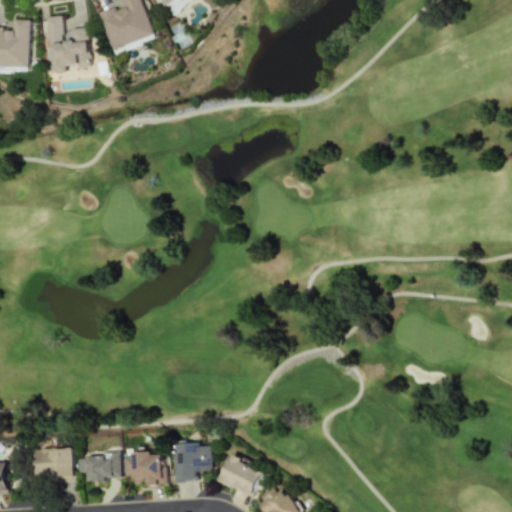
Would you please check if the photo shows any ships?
No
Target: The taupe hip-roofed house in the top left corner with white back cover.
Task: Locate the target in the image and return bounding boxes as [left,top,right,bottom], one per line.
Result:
[0,19,32,73]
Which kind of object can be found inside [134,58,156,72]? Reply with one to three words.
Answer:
swimming pool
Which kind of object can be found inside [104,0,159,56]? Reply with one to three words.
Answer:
house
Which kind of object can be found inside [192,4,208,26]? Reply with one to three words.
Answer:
swimming pool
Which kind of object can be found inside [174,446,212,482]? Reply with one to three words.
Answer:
house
